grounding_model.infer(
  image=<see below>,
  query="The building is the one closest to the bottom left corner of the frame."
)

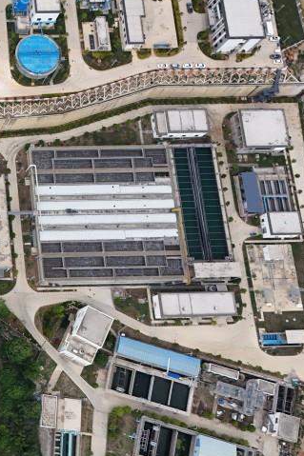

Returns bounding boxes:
[38,396,57,428]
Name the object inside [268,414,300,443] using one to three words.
house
